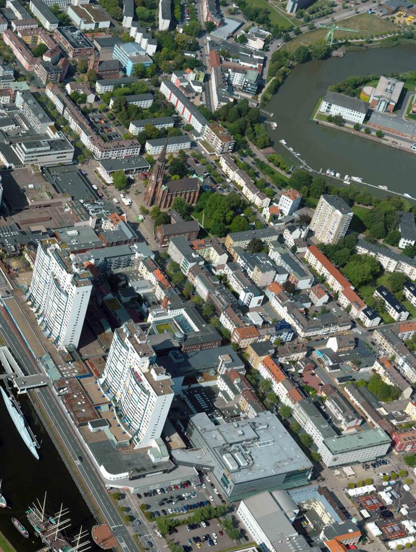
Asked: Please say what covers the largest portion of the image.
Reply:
buildings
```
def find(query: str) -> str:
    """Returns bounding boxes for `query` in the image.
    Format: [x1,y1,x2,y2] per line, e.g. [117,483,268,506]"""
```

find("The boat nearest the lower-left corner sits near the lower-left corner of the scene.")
[11,516,28,538]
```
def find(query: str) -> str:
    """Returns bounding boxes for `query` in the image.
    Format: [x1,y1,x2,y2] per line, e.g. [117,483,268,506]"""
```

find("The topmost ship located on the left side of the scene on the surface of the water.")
[0,385,40,459]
